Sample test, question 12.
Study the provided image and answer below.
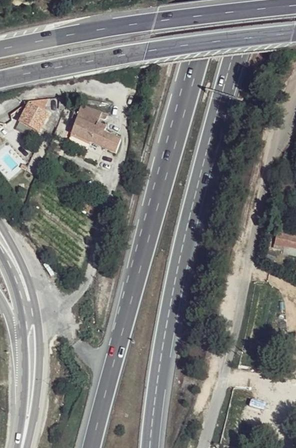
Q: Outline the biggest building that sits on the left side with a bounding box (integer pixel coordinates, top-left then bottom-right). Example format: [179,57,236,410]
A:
[70,106,121,154]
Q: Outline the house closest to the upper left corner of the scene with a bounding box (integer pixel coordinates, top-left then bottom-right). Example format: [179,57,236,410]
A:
[16,100,52,134]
